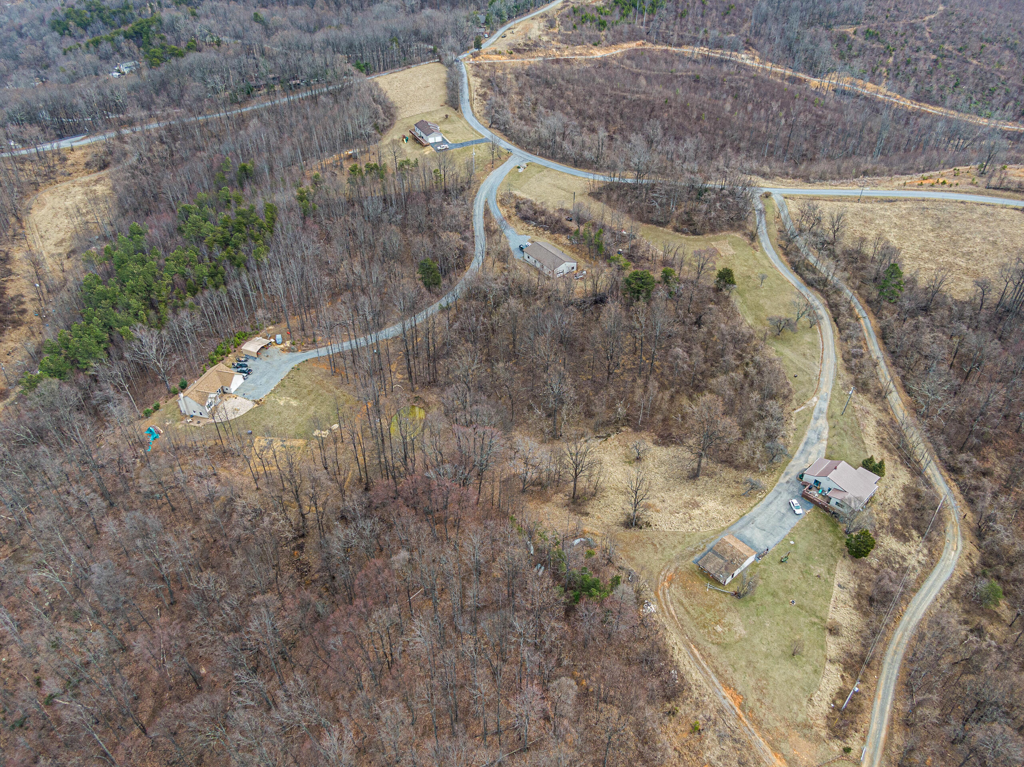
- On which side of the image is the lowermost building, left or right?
right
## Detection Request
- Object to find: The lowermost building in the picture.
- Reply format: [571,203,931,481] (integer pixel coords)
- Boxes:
[698,533,758,588]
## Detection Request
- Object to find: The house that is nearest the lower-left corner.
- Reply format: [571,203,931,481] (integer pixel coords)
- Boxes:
[173,361,244,419]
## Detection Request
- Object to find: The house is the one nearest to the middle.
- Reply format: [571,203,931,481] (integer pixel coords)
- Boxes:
[523,242,578,278]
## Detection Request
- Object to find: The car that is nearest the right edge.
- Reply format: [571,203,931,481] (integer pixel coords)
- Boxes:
[788,497,805,514]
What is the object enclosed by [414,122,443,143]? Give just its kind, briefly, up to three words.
house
